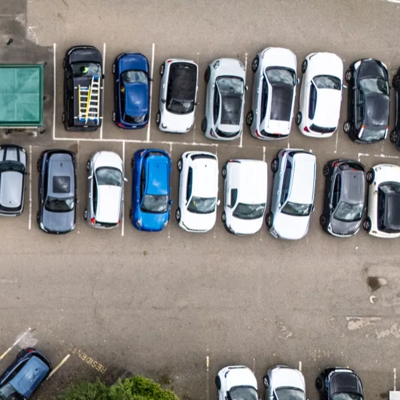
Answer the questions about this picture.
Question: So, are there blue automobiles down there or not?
Yes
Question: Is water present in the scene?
No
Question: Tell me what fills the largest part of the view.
paved ground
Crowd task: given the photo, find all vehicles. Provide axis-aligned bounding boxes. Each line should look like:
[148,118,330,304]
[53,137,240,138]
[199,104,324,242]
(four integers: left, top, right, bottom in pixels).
[364,164,400,239]
[38,149,83,234]
[217,364,269,400]
[63,45,110,131]
[159,60,203,130]
[0,343,54,400]
[112,52,158,129]
[318,366,372,400]
[388,64,400,150]
[319,158,371,238]
[269,148,320,240]
[223,158,274,235]
[298,53,350,137]
[344,59,398,144]
[130,149,177,231]
[252,48,305,138]
[177,150,224,232]
[202,60,252,138]
[0,145,32,217]
[85,150,130,229]
[262,364,313,400]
